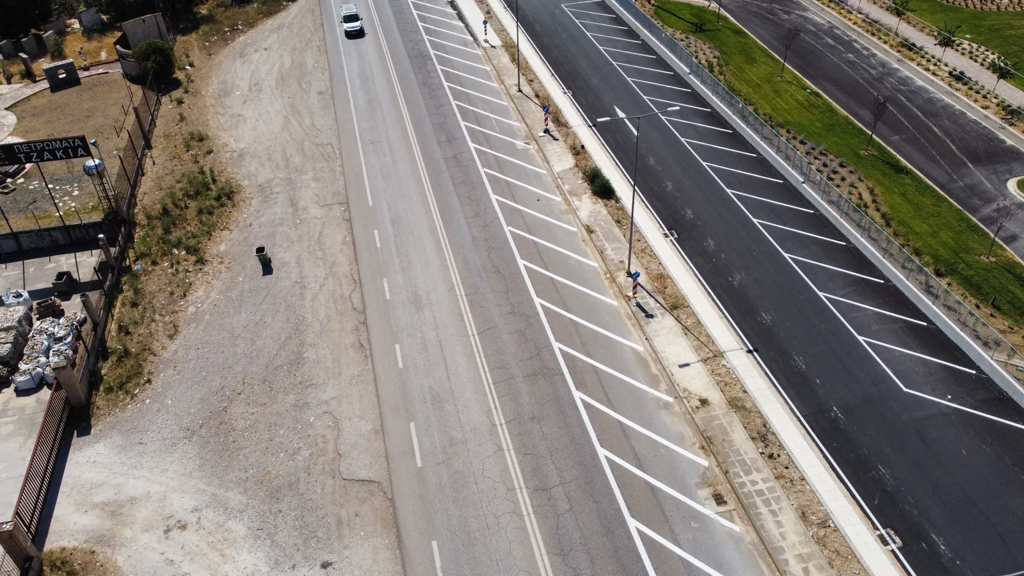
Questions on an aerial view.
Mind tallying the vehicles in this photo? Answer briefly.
1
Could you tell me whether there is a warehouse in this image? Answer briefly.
No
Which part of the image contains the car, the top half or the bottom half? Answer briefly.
top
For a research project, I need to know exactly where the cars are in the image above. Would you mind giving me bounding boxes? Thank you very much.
[340,3,366,40]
